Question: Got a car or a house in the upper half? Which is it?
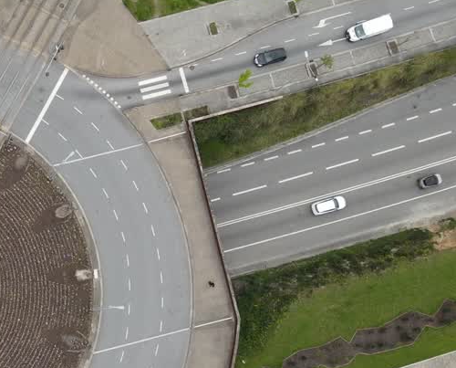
car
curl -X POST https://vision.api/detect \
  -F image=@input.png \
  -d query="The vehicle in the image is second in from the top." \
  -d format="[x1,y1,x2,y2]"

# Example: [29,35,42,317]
[252,48,287,67]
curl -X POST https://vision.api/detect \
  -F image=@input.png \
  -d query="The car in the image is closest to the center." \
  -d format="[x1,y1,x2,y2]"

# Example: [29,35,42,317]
[309,196,344,215]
